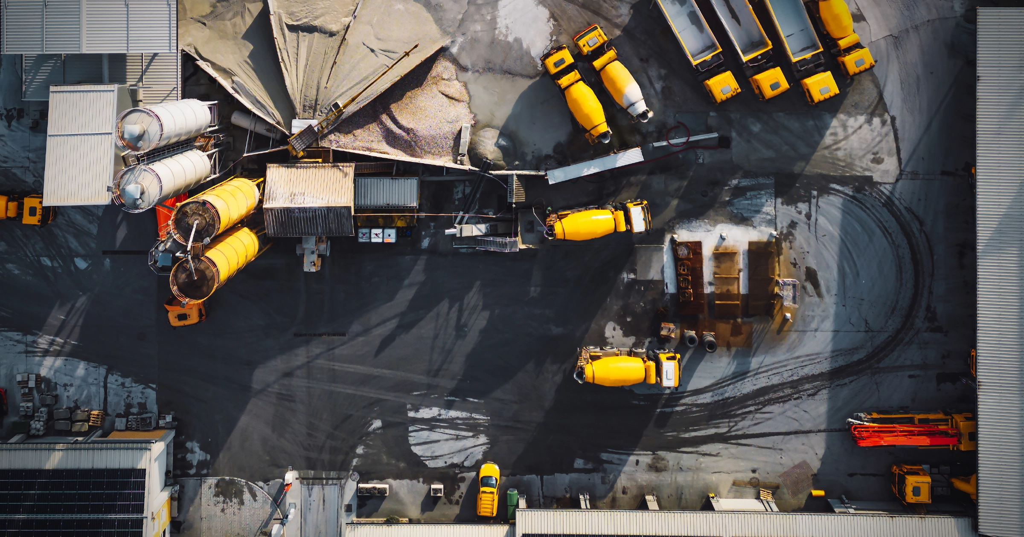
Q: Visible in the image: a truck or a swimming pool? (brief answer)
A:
truck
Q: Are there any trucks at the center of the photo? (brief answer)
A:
Yes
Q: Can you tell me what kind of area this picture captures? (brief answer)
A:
industrial area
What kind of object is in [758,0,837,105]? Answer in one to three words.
truck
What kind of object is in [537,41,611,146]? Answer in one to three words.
truck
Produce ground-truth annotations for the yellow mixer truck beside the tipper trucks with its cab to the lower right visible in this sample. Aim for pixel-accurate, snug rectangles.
[807,0,877,79]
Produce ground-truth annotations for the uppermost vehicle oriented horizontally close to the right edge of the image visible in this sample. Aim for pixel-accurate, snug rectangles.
[846,410,975,453]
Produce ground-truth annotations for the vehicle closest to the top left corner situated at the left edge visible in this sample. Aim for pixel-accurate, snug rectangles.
[0,192,53,226]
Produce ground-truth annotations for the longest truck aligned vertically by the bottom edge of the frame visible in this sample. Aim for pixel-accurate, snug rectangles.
[476,460,500,519]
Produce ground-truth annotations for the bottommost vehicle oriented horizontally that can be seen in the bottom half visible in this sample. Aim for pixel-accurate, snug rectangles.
[882,462,975,505]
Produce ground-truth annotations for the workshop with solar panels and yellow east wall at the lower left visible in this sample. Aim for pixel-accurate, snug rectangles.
[0,421,182,537]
